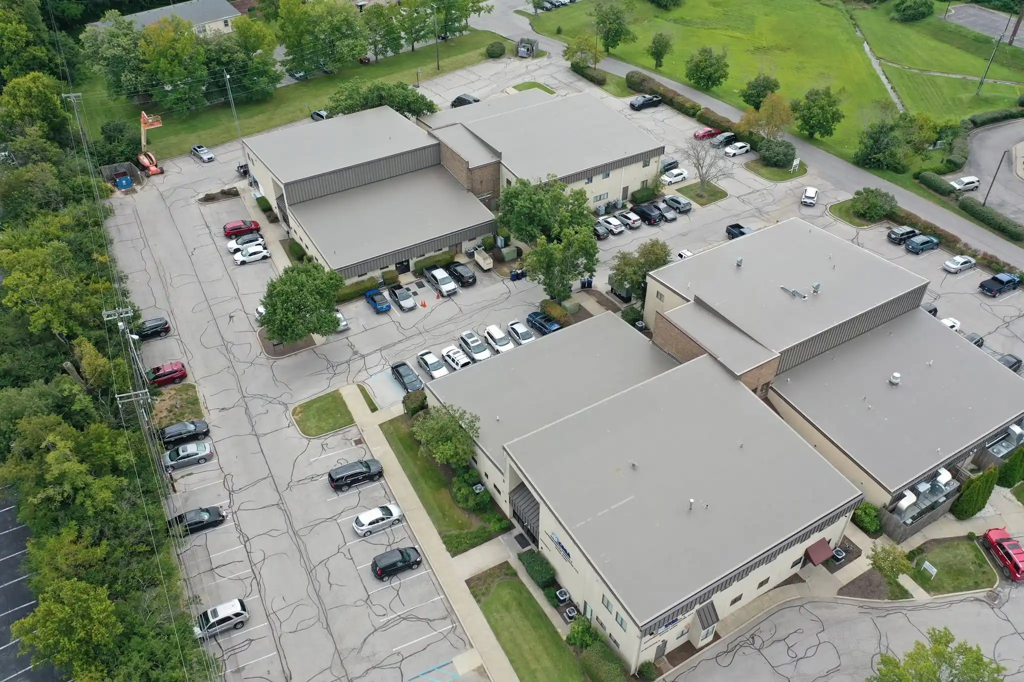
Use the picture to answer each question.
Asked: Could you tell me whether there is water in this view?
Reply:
No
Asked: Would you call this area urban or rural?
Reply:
urban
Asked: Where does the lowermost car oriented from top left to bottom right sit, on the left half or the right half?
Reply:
right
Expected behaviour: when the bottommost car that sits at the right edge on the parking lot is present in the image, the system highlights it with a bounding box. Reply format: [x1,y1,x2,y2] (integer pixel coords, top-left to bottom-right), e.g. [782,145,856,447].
[985,530,1024,586]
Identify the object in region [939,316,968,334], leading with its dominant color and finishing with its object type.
white car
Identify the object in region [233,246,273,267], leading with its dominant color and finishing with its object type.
white car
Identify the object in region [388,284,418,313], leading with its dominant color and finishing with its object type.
gray car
